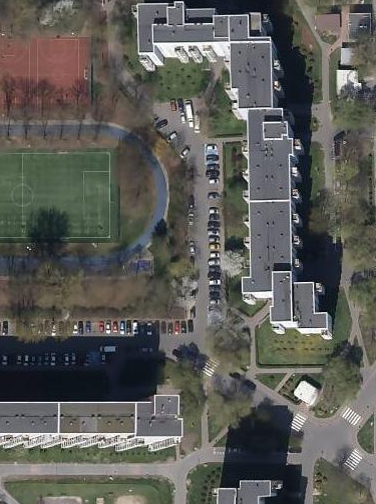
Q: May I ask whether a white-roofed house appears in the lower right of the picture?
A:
Yes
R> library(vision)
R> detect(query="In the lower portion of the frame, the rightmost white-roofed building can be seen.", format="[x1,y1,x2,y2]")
[293,380,318,407]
